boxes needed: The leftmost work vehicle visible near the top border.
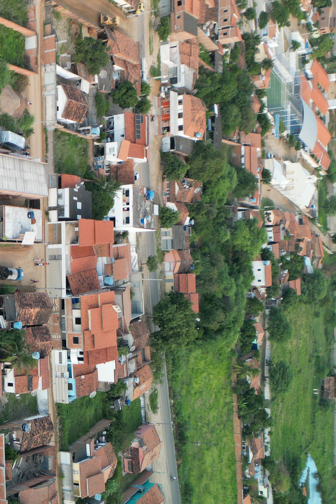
[100,14,121,33]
